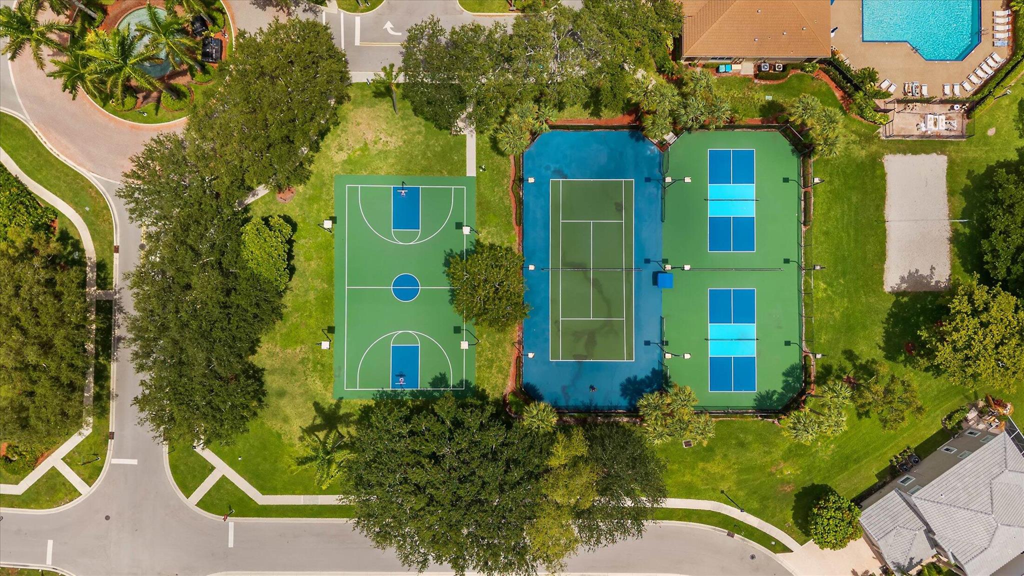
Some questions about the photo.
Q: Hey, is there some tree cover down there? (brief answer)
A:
Yes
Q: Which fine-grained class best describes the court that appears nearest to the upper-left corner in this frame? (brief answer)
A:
basketball court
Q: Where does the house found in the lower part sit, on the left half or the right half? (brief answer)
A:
right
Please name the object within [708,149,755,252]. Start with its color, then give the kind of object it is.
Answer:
blue sports court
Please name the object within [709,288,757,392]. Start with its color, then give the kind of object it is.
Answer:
blue sports court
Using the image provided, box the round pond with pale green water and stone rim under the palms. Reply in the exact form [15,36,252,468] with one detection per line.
[112,3,189,80]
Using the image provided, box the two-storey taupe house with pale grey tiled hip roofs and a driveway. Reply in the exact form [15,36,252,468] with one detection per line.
[862,424,1024,576]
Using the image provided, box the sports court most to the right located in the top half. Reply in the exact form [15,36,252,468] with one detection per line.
[882,153,953,294]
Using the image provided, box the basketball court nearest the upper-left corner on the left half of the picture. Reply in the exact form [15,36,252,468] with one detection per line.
[333,175,476,399]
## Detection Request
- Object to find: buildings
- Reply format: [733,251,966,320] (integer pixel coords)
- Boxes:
[862,424,1024,576]
[649,0,831,64]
